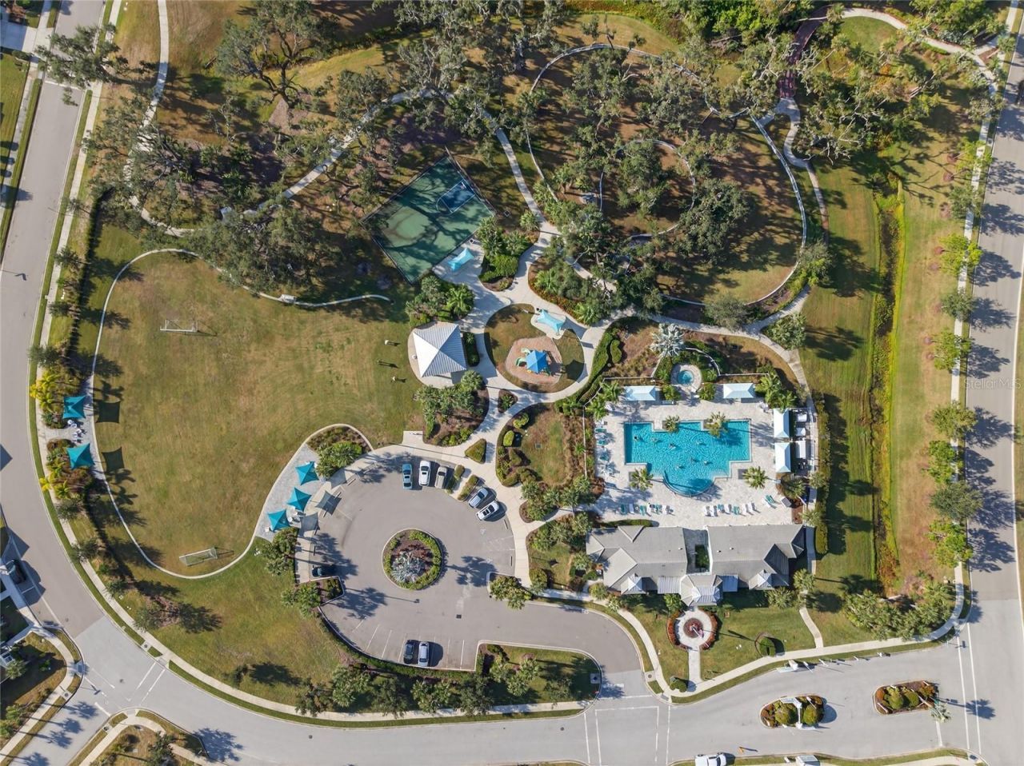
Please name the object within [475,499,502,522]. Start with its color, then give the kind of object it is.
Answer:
white car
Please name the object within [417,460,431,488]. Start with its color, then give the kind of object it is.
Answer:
white car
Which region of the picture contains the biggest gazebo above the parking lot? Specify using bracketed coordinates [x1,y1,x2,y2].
[413,324,466,377]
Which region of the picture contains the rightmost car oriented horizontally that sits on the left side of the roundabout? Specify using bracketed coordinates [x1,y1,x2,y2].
[311,564,337,577]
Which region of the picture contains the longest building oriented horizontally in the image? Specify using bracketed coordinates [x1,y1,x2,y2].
[586,524,804,606]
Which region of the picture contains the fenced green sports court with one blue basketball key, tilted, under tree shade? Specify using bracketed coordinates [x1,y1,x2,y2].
[363,155,497,284]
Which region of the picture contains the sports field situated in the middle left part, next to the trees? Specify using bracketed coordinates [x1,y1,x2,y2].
[90,248,420,579]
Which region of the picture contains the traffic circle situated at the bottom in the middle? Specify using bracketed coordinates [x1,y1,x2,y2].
[381,529,443,591]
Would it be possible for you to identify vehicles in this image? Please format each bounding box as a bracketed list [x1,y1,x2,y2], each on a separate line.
[417,460,431,488]
[467,486,493,510]
[694,754,726,766]
[403,637,416,665]
[435,463,448,490]
[401,462,413,489]
[475,499,502,522]
[417,639,430,668]
[311,564,337,577]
